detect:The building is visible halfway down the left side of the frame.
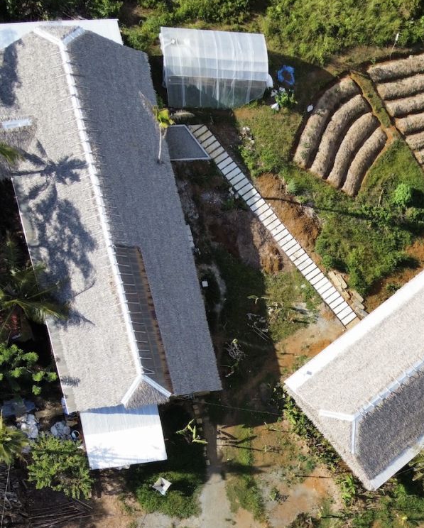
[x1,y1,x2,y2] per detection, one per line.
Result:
[0,19,225,470]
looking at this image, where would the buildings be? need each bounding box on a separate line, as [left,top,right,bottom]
[0,19,225,470]
[157,29,271,106]
[284,273,424,489]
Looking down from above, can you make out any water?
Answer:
No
